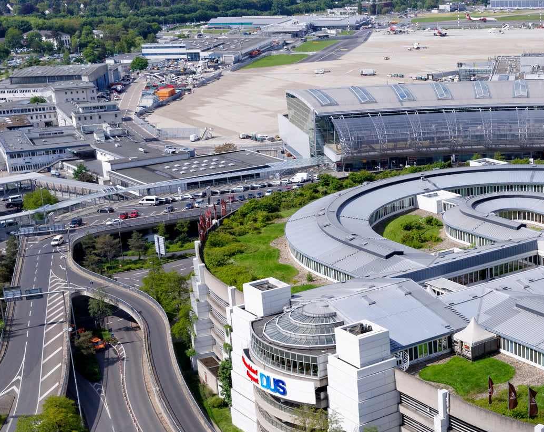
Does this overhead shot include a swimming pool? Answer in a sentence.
No, the picture doesn't show any swimming pool.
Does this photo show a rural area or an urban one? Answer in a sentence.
The land in this view is best described as urban.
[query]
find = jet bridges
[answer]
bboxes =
[422,70,459,83]
[455,58,463,70]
